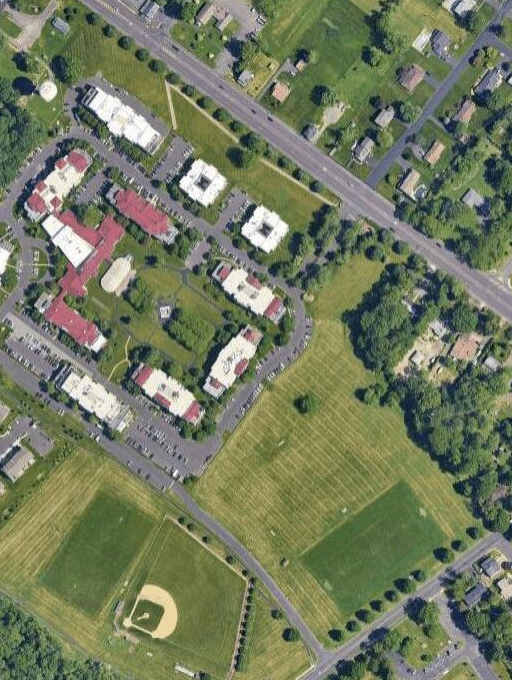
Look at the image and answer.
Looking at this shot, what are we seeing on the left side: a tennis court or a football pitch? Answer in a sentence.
Looking on the left side, you will find a football pitch.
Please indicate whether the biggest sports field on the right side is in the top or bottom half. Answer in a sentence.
It is in the bottom half that the biggest sports field on the right side appears.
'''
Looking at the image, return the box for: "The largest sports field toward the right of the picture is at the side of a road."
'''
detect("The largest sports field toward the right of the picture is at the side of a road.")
[193,321,486,648]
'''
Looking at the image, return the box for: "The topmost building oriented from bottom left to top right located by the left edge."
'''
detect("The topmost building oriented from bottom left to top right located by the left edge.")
[24,149,94,224]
